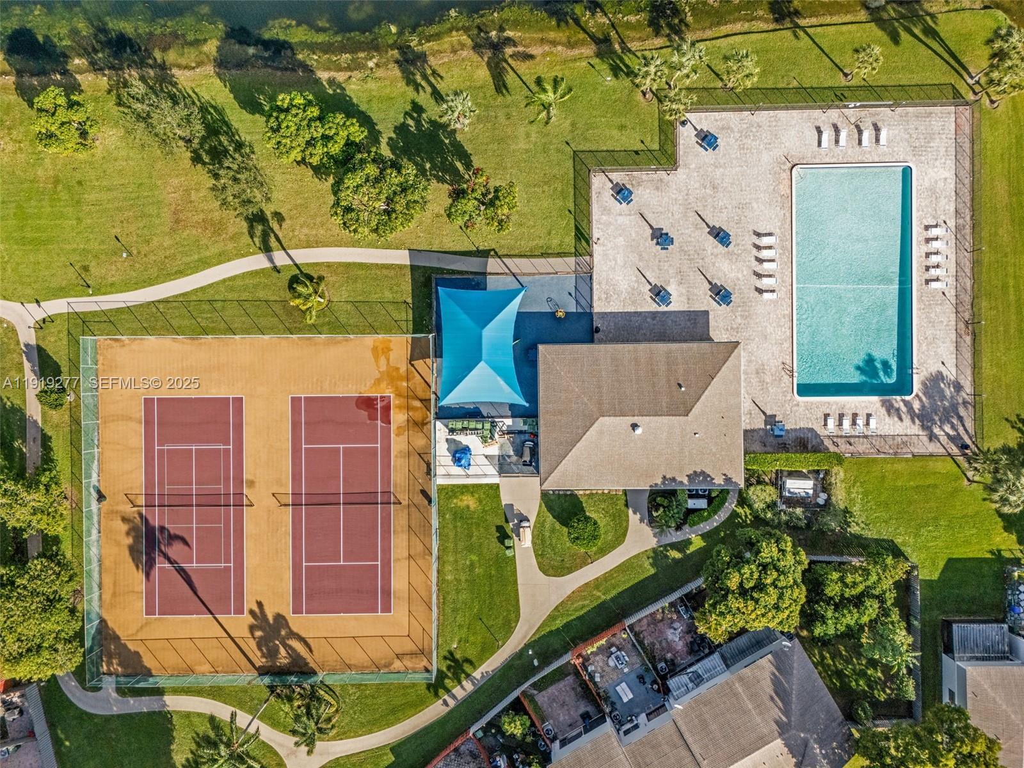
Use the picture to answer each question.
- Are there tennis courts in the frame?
Yes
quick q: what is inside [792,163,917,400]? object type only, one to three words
swimming pool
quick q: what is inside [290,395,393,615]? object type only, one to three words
tennis court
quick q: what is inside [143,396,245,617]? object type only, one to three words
tennis court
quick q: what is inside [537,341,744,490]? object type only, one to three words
building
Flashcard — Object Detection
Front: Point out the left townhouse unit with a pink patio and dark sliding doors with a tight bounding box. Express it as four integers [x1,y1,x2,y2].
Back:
[549,716,636,768]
